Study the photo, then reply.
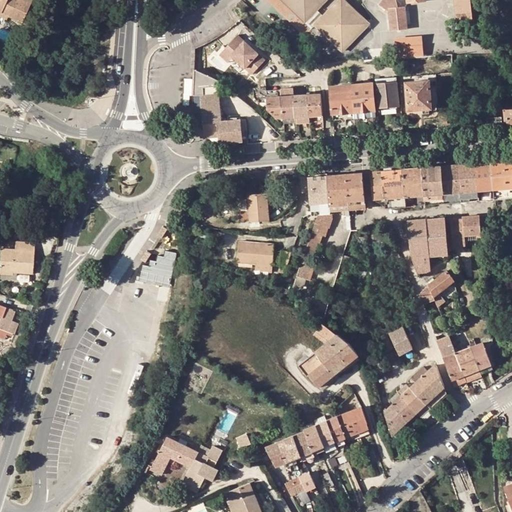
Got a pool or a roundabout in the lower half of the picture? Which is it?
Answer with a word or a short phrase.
pool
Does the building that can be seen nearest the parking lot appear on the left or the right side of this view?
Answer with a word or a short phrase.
left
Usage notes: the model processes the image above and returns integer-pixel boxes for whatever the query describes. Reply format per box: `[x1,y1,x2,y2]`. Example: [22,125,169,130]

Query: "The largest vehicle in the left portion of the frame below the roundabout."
[127,366,146,396]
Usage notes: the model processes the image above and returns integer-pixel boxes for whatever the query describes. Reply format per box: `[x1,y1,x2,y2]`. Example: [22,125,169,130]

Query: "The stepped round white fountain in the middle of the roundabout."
[120,164,138,182]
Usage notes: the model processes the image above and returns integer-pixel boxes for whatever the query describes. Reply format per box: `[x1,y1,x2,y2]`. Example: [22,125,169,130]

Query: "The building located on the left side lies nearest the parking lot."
[138,250,176,286]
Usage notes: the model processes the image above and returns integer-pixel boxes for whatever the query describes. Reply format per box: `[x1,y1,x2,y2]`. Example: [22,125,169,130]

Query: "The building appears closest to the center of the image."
[236,240,274,274]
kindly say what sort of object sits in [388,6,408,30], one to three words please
building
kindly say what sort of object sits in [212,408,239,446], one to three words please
swimming pool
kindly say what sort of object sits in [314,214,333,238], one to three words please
house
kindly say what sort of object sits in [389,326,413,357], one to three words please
shed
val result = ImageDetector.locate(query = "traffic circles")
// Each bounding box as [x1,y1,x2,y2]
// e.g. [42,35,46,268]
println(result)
[88,131,174,216]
